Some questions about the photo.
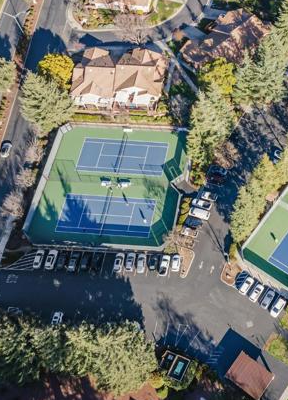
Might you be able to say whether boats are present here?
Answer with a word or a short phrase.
No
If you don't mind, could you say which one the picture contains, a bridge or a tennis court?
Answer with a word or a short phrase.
tennis court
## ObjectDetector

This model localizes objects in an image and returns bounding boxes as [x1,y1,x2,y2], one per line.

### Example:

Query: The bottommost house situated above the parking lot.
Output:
[70,46,167,109]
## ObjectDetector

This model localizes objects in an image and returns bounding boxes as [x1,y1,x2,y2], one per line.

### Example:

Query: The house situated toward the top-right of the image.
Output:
[170,7,268,75]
